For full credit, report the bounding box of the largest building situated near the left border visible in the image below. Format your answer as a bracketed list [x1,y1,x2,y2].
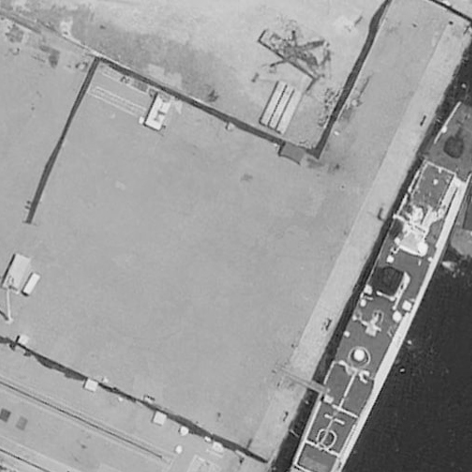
[3,253,33,295]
